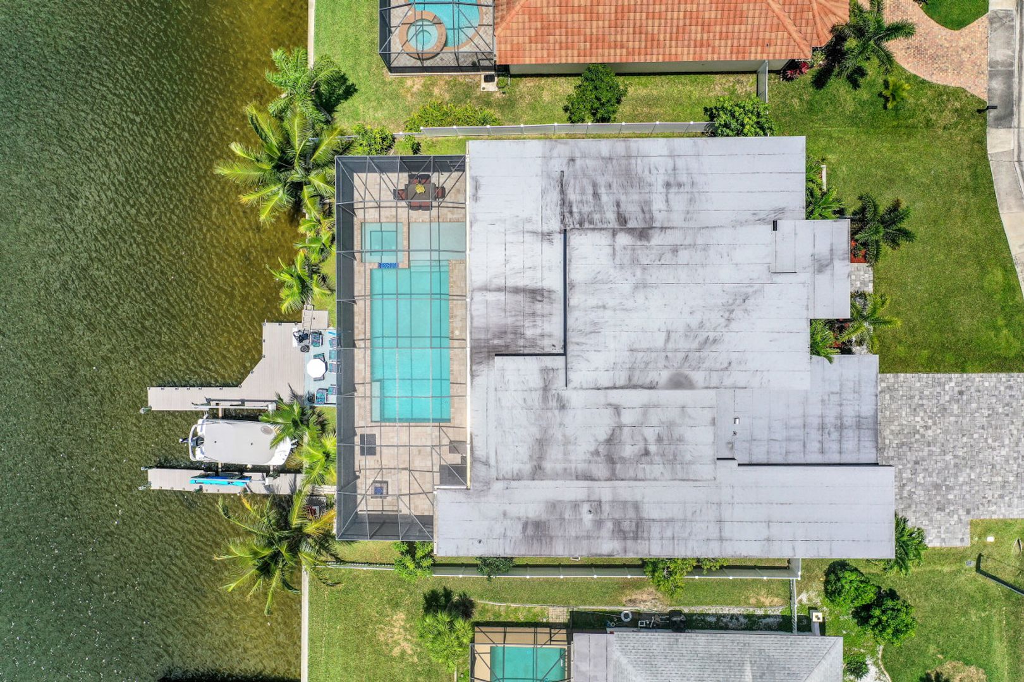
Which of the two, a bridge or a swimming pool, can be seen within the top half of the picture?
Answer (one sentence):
There is a swimming pool within the top half of the picture.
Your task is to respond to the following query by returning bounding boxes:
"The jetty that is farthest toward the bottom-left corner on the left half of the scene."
[148,468,305,495]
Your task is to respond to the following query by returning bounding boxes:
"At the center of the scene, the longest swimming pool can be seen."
[354,216,466,430]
